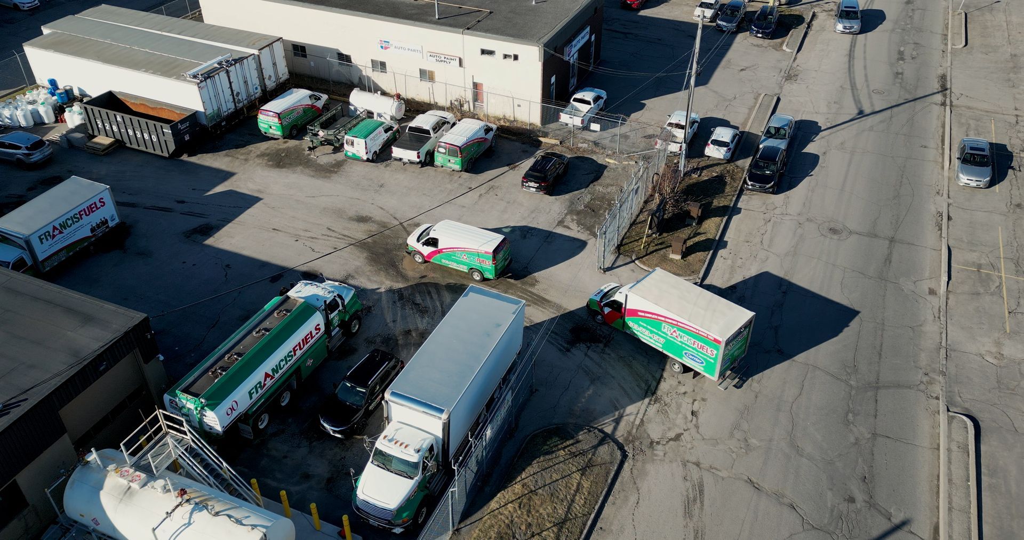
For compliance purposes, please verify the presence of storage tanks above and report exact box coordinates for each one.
[43,449,299,540]
[350,87,404,121]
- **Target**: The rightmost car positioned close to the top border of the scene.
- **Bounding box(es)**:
[835,1,865,35]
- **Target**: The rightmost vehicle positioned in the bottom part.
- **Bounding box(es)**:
[582,268,756,395]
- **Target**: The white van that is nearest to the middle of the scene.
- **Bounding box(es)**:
[401,218,519,281]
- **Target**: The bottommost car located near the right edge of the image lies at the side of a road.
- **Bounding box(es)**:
[955,144,996,189]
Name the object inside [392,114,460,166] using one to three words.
truck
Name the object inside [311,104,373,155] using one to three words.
trailer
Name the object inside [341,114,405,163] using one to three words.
van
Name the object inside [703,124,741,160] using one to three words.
car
